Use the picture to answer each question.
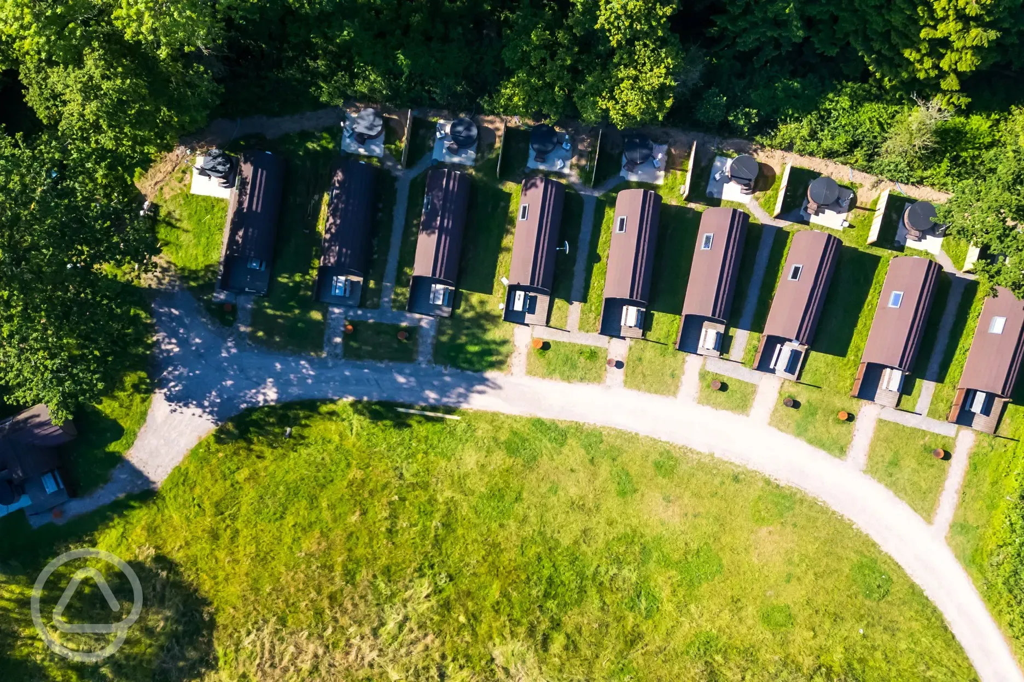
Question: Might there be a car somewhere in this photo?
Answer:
No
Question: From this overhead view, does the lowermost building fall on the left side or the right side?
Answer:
left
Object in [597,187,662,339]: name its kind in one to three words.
building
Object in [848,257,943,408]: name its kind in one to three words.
building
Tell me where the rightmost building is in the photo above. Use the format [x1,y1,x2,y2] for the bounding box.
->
[944,285,1024,435]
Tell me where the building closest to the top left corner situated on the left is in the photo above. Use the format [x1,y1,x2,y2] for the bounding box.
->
[216,146,290,299]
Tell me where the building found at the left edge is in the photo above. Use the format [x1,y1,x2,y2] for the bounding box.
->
[0,400,88,515]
